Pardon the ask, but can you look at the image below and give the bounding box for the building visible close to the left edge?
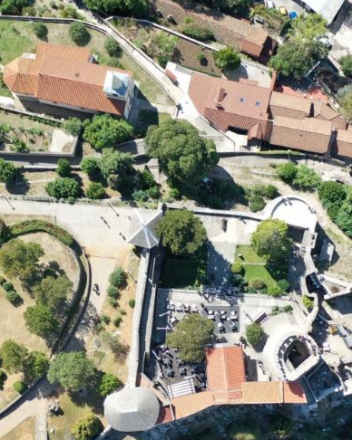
[3,43,136,125]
